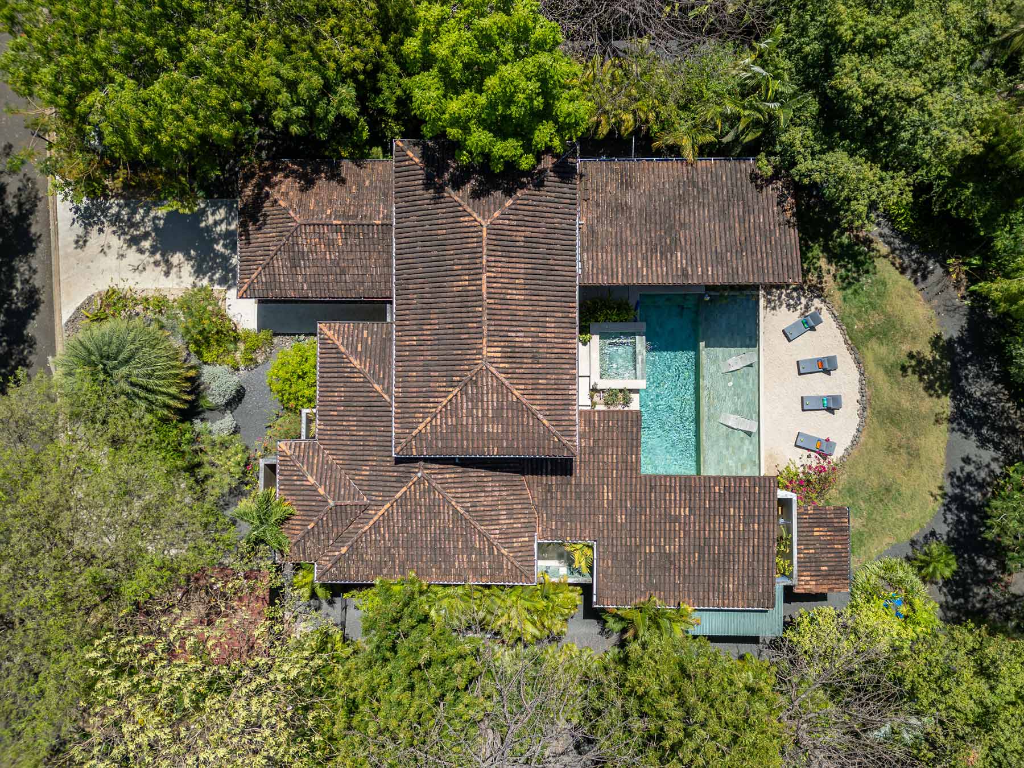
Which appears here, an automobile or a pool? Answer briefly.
pool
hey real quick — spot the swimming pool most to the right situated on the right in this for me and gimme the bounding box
[634,291,765,476]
